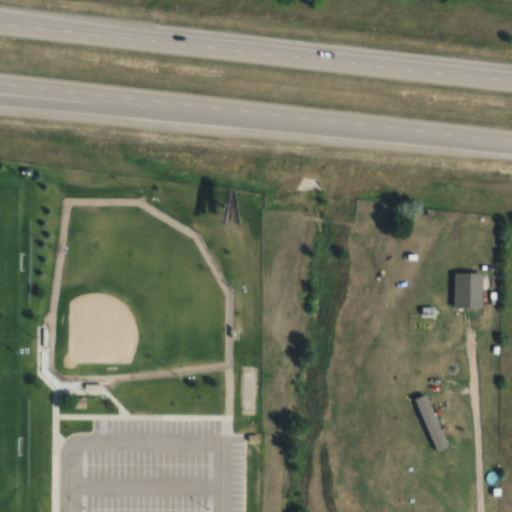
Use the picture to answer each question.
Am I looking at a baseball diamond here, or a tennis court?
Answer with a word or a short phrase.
baseball diamond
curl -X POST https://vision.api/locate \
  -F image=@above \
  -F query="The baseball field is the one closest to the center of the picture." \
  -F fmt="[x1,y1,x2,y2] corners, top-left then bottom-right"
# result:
[44,197,234,384]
